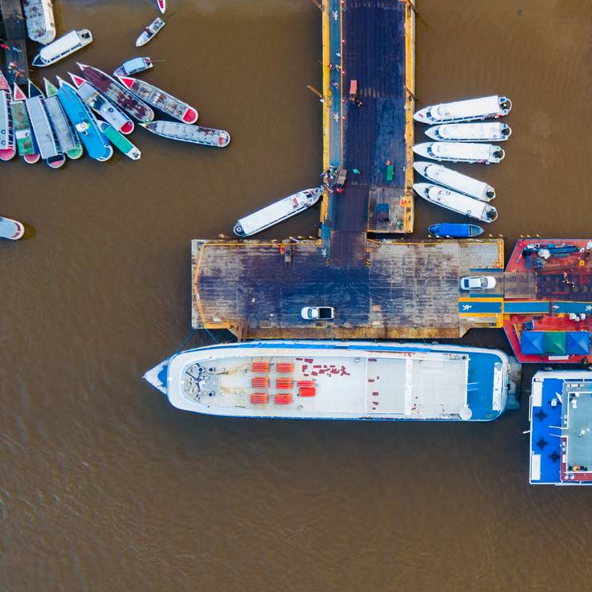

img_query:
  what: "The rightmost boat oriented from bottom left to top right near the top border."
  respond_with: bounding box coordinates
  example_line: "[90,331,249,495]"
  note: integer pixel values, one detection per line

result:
[134,16,166,48]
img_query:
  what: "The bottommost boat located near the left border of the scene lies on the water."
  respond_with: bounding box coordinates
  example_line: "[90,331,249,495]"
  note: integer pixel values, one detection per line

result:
[0,218,28,239]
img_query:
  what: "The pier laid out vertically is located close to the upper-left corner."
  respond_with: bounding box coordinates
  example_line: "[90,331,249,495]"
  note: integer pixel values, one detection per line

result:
[0,0,35,86]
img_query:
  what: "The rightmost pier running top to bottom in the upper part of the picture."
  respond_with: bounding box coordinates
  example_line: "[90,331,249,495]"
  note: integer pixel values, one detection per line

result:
[319,0,417,267]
